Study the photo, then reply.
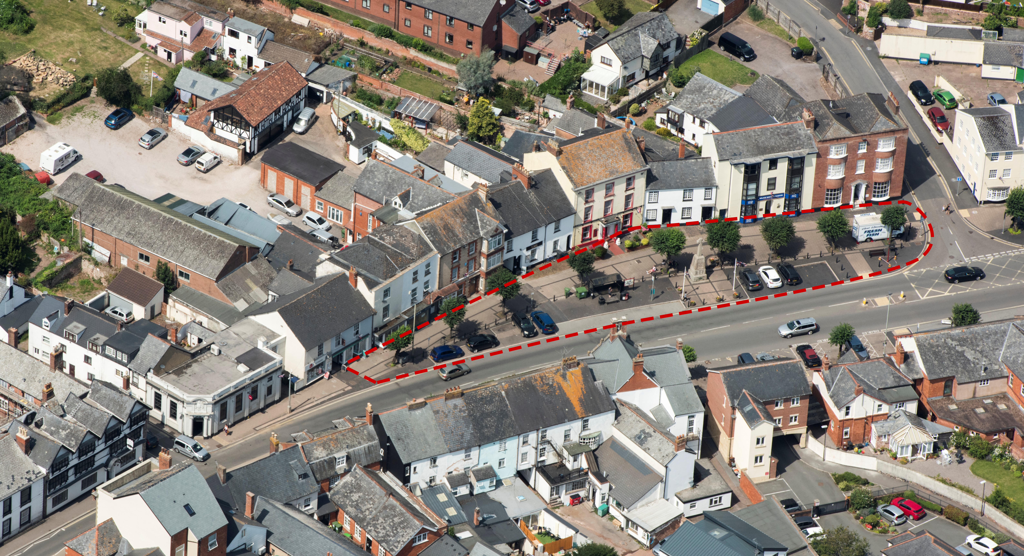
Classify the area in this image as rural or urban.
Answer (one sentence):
The land in this view is best described as urban.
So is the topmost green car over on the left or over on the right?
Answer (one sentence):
The topmost green car appears in the right half of the scene.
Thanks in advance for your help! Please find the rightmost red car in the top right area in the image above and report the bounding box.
[926,108,948,131]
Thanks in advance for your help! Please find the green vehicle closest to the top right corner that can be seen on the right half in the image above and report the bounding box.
[931,89,959,110]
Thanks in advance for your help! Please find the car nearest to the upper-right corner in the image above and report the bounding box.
[981,88,1013,111]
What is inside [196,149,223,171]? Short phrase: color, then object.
white vehicle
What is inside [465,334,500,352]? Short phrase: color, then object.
black car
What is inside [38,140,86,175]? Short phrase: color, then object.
white camper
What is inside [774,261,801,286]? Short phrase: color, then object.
black car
